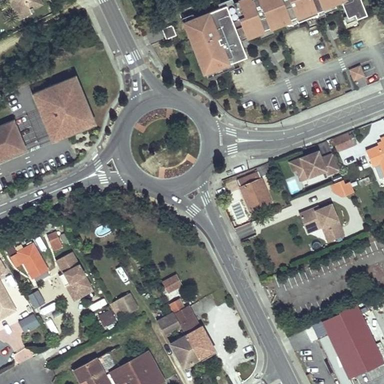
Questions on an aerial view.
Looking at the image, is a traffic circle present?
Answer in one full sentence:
Yes, there's a traffic circle down there.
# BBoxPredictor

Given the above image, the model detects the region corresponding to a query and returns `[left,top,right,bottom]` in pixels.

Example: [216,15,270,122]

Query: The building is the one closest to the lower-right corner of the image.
[312,307,384,384]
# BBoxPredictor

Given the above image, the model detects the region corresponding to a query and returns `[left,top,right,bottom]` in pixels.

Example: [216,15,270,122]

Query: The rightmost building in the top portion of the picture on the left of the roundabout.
[33,76,96,144]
